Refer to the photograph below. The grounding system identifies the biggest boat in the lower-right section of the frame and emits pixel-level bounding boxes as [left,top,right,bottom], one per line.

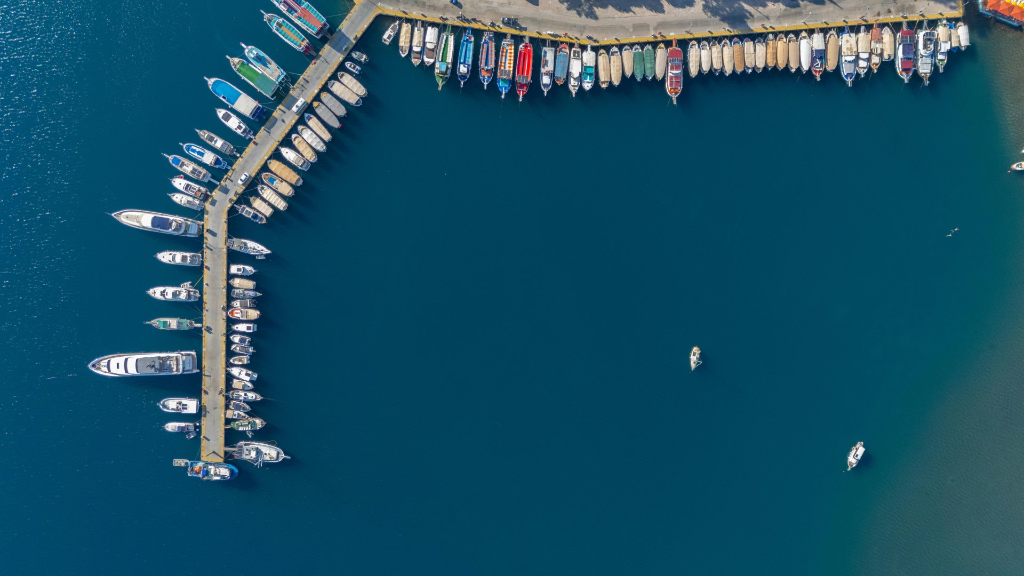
[849,440,866,470]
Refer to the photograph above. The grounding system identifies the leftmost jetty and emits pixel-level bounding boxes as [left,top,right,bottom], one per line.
[201,7,376,462]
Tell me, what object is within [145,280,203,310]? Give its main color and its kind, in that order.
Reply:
white boat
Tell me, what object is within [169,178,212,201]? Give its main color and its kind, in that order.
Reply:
white boat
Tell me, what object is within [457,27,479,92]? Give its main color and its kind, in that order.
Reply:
blue boat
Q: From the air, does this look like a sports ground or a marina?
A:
marina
